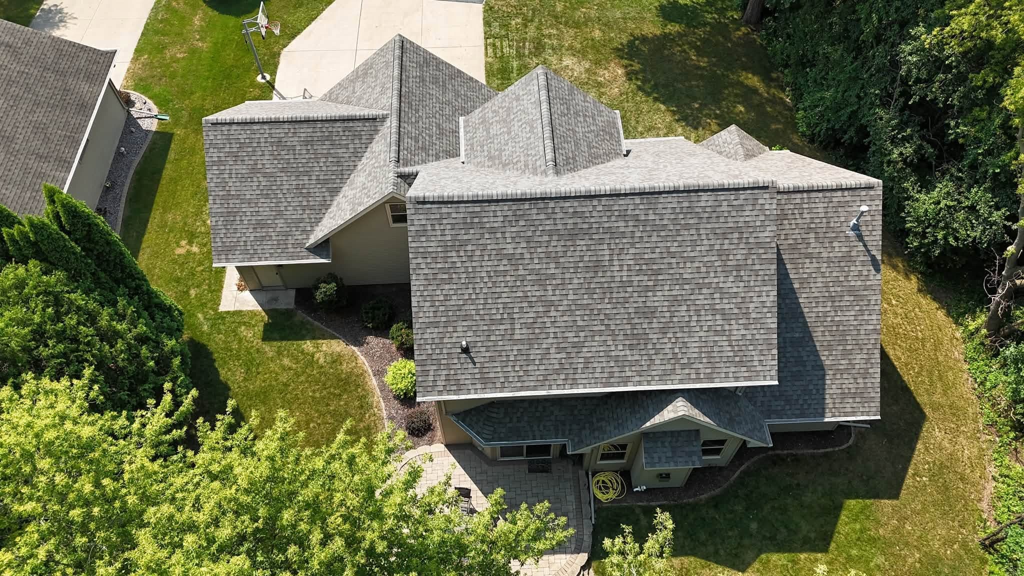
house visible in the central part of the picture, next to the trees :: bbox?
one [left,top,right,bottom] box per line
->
[204,34,883,519]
